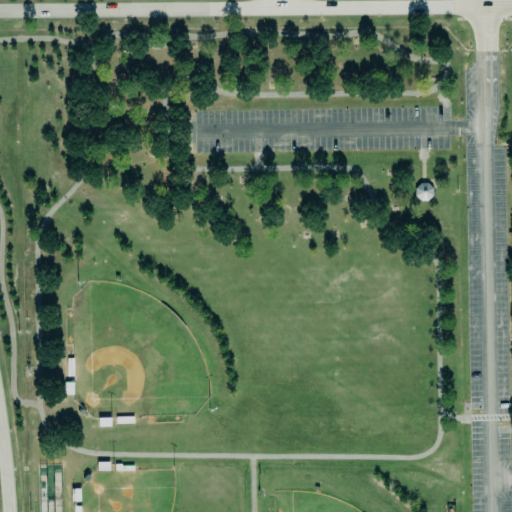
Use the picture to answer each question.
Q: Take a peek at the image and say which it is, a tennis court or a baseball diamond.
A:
baseball diamond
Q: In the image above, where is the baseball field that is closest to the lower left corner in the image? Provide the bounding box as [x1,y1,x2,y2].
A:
[84,468,176,512]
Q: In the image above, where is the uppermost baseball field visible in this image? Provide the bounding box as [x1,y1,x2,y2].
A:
[66,280,210,423]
